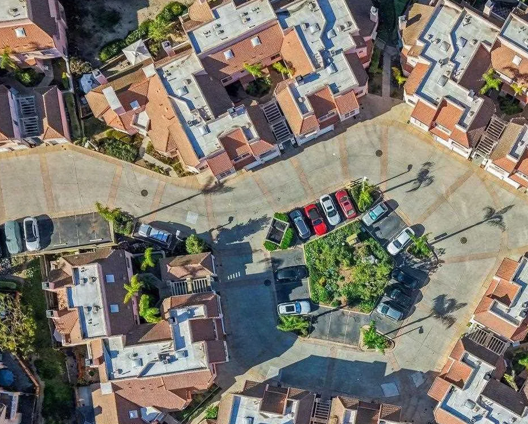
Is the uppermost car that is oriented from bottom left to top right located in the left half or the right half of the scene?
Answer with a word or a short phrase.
right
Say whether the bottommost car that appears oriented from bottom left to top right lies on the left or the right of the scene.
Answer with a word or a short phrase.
right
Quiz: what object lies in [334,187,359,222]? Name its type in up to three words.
car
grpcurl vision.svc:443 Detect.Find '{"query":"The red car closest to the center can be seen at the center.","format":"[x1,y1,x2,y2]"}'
[304,204,329,237]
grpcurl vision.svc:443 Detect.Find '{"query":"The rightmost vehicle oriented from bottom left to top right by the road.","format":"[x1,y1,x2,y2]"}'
[386,224,415,257]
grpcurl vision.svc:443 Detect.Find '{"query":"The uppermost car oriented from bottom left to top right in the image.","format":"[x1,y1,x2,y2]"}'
[359,200,392,228]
